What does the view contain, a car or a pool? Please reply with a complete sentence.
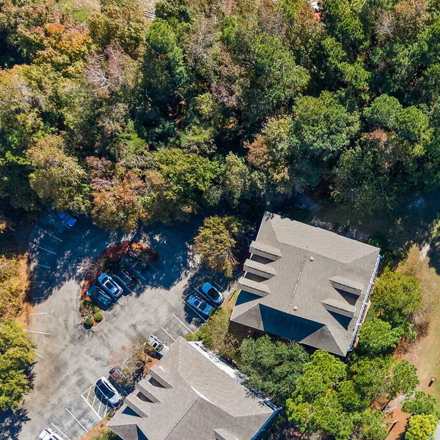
This aerial view contains a car.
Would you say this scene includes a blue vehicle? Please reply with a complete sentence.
Yes, there's a blue vehicle here.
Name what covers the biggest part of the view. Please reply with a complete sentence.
For the most part, this view shows trees.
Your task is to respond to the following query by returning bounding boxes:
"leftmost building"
[108,333,286,440]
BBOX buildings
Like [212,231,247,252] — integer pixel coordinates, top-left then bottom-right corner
[108,333,286,440]
[229,208,388,358]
